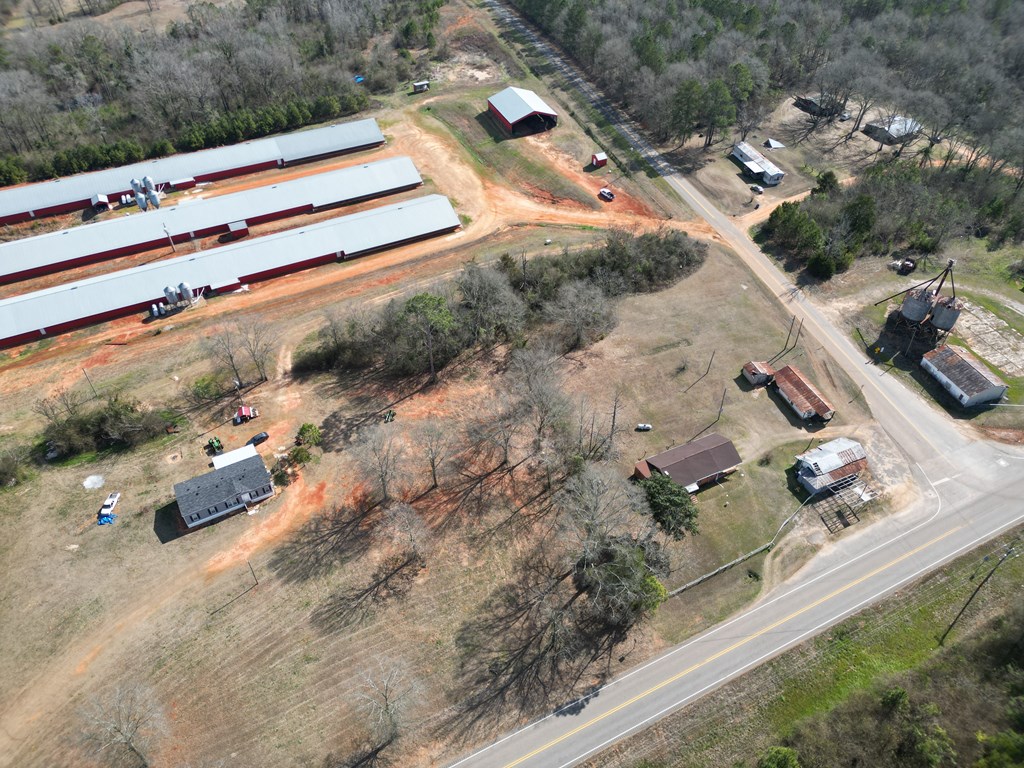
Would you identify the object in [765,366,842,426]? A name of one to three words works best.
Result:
shed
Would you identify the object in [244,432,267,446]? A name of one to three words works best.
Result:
car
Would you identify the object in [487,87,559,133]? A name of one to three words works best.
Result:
barn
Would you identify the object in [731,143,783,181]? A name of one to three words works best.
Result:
house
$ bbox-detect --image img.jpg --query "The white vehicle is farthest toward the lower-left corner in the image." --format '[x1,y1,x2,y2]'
[95,490,120,516]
